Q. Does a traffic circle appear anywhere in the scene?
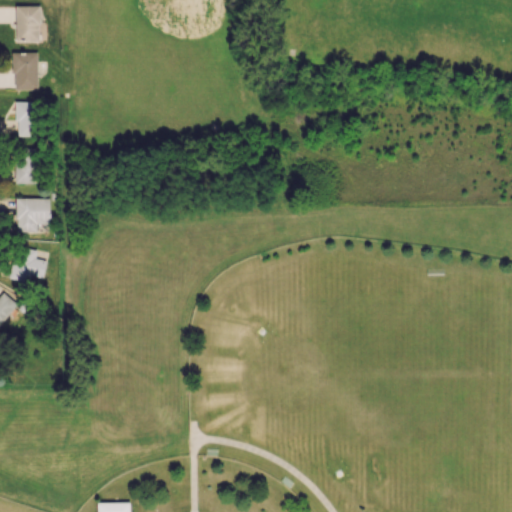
No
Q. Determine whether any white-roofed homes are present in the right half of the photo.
No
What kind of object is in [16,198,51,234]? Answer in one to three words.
house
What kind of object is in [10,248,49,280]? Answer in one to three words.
house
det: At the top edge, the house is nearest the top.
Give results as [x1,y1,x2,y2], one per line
[16,6,44,43]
